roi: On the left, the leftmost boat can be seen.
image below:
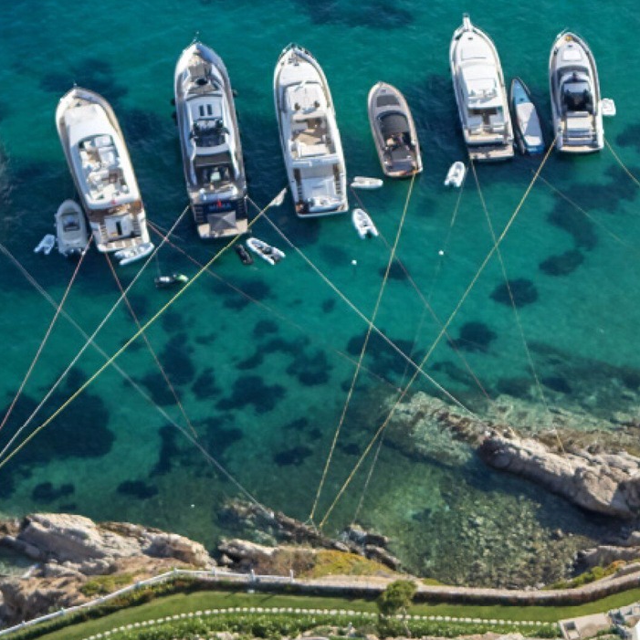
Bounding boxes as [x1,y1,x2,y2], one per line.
[35,234,55,254]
